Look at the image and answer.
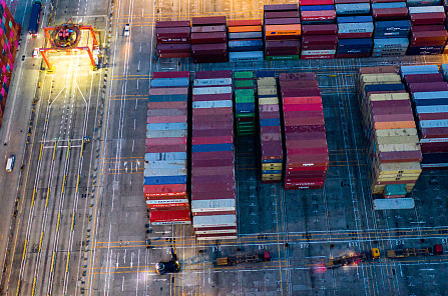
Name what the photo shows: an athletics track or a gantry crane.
gantry crane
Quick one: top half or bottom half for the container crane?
top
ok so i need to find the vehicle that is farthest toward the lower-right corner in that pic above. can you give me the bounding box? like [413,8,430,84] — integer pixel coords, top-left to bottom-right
[393,241,448,258]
